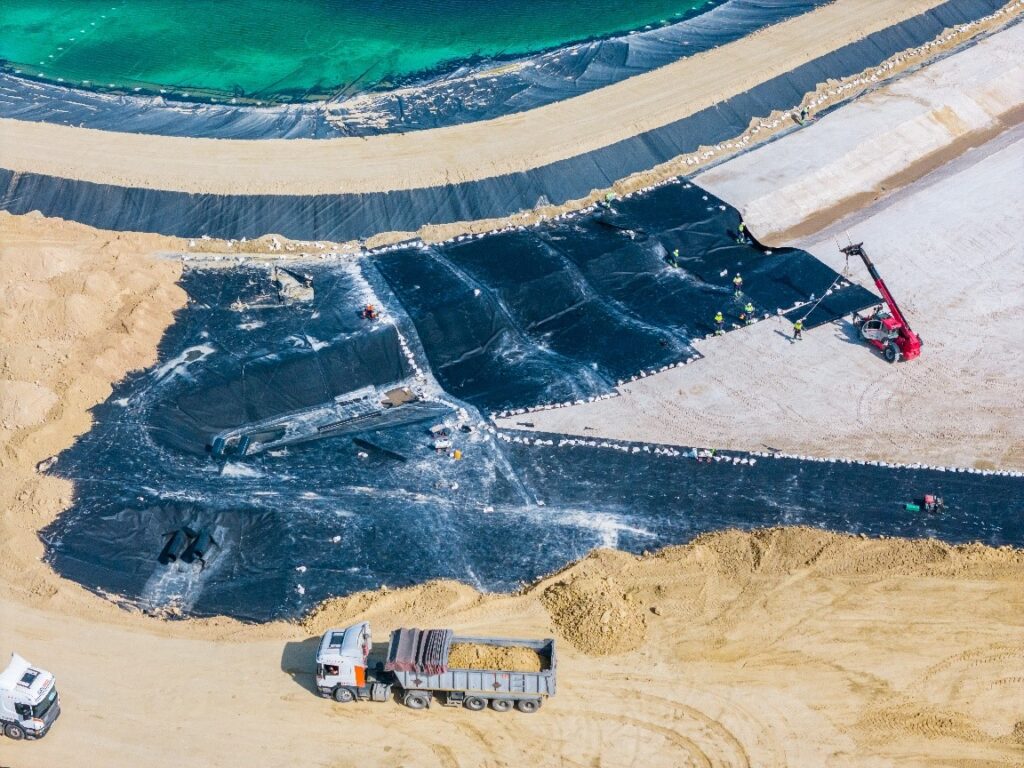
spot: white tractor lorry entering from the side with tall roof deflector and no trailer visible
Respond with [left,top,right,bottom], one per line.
[0,651,67,741]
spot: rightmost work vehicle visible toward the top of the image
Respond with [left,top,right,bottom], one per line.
[844,233,921,362]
